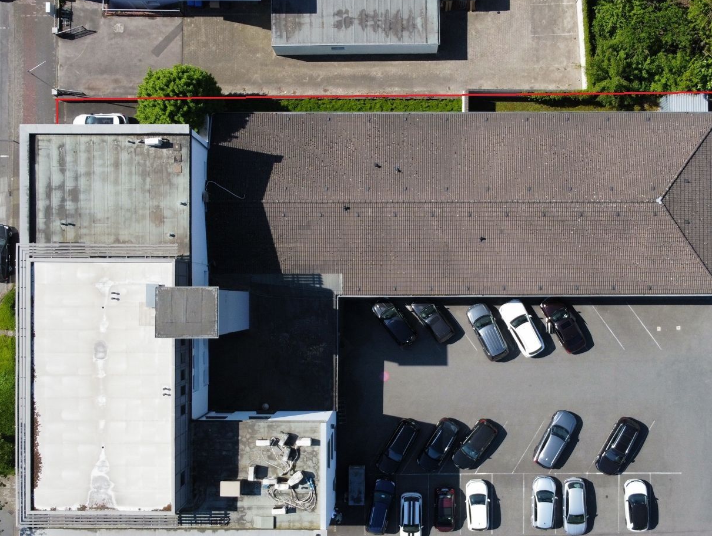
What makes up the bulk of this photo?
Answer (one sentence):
What you mostly see from above here is buildings.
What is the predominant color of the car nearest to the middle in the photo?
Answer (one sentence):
The car nearest to the middle looks black in the image.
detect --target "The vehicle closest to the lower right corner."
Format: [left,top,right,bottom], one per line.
[623,480,650,532]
